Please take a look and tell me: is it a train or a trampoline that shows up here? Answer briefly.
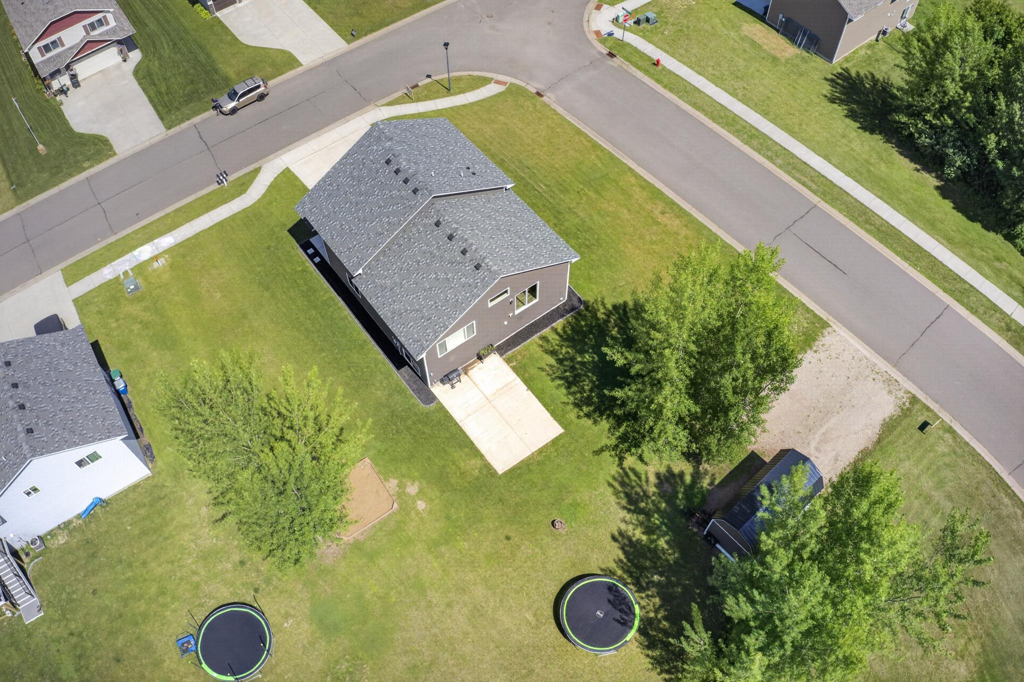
trampoline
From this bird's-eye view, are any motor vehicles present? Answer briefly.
Yes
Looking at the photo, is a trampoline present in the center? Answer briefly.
No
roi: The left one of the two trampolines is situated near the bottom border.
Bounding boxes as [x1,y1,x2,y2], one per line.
[179,602,276,682]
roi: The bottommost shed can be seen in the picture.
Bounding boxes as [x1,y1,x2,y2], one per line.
[703,448,821,570]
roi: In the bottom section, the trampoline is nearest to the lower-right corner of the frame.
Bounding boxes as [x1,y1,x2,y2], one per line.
[559,574,640,665]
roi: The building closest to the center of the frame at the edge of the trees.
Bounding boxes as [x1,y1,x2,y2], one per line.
[296,120,578,389]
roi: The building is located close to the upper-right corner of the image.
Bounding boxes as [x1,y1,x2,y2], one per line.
[775,0,921,62]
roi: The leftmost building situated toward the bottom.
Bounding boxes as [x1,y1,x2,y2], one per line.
[0,325,151,539]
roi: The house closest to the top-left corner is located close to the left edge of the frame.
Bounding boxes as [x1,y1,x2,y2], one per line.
[0,0,138,100]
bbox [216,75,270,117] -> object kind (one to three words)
car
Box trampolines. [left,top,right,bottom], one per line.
[179,602,276,682]
[559,574,640,665]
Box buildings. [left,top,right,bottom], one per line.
[296,120,578,389]
[703,448,821,570]
[0,0,138,100]
[0,325,151,539]
[775,0,921,62]
[193,0,244,20]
